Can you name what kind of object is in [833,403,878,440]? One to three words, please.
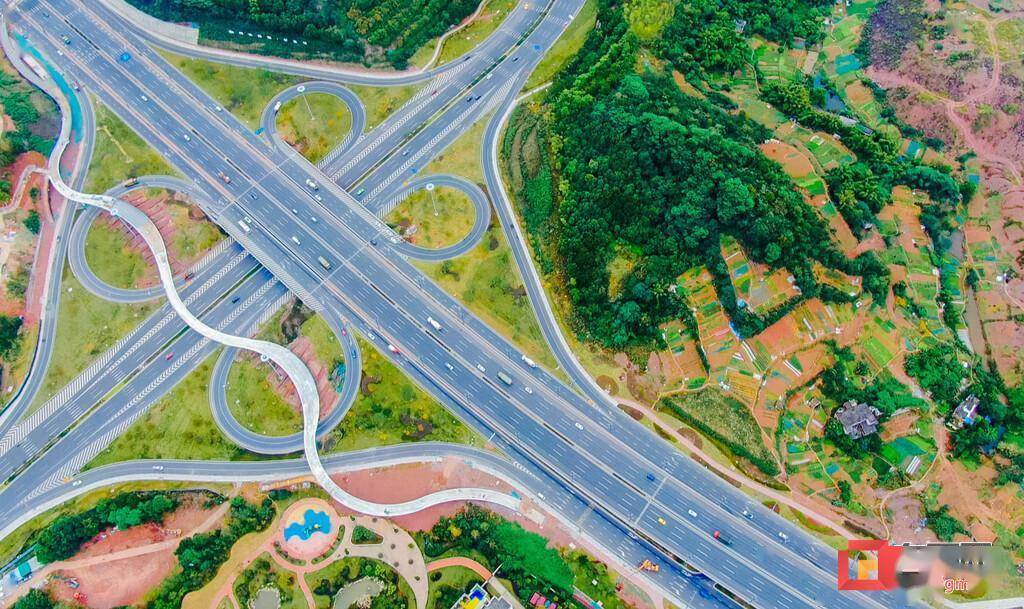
house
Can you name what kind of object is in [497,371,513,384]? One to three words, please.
vehicle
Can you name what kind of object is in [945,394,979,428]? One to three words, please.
house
